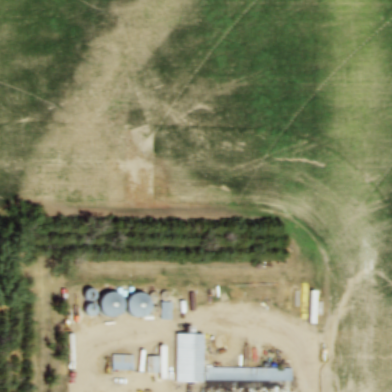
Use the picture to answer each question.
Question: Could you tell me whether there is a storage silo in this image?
Yes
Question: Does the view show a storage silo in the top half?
No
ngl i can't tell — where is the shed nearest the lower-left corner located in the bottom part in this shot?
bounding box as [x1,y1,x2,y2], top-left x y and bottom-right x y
[112,354,136,370]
